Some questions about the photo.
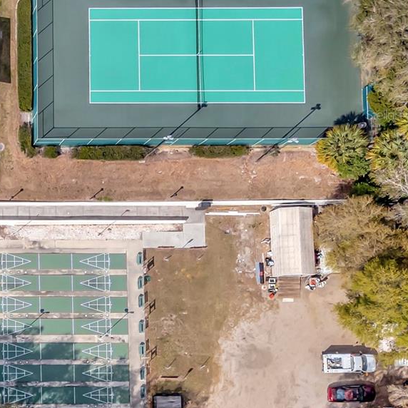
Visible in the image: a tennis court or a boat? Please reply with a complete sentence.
Of the two, only a tennis court appears.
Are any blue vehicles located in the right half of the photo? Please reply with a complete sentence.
No, the scene shows no blue vehicle in the right half of the photo.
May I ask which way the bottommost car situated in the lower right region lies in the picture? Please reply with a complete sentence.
I'd say the bottommost car situated in the lower right region is aligned from side to side in the picture.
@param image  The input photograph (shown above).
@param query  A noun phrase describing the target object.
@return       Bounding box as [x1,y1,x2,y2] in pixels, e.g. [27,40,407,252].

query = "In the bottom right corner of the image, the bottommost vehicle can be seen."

[329,382,379,405]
